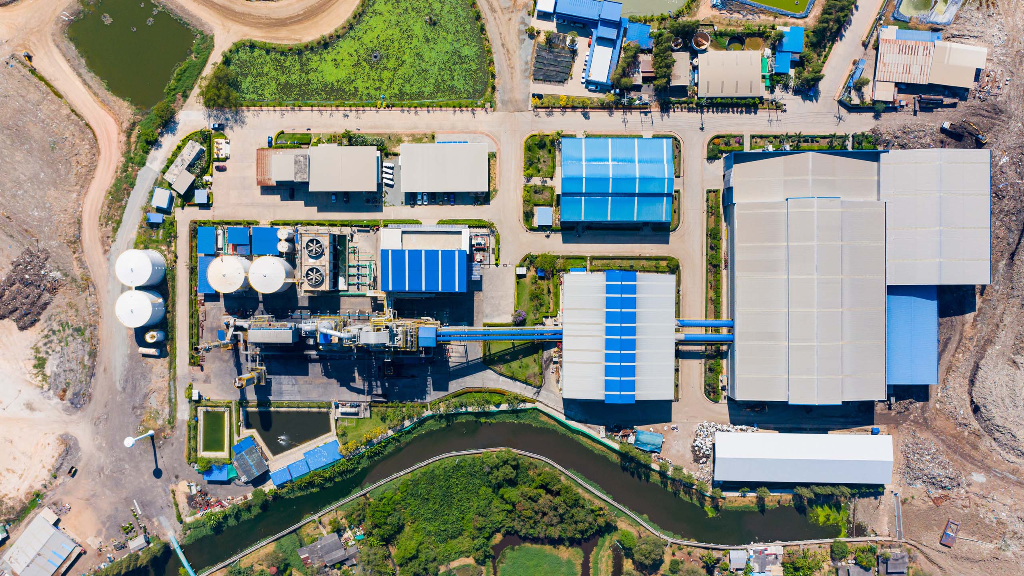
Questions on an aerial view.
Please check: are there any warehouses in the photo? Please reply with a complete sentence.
Yes, a warehouse appears in the view.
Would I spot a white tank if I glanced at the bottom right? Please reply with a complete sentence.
No, no white tank is visible at the bottom right.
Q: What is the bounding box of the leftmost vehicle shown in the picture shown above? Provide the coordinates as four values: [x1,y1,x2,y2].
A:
[18,49,34,71]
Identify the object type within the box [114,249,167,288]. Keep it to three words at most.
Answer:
storage tank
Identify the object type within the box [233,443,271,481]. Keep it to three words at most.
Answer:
shed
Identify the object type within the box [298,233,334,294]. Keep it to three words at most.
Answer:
cooling tower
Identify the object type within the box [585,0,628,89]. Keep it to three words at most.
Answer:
building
